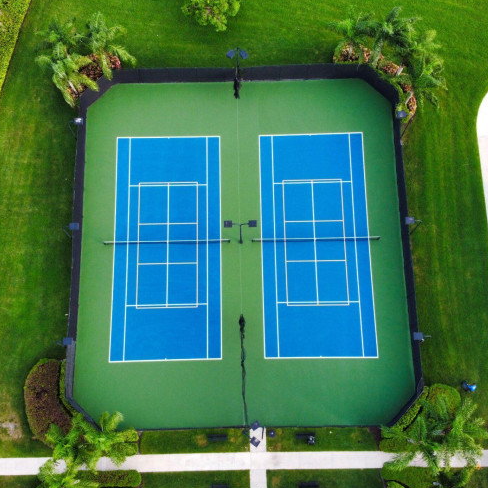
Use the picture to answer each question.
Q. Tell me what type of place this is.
sports ground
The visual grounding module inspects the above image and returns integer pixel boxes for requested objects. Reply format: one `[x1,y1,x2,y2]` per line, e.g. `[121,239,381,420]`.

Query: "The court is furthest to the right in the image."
[239,77,416,428]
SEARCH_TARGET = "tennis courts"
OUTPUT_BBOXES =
[239,77,416,428]
[72,81,244,430]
